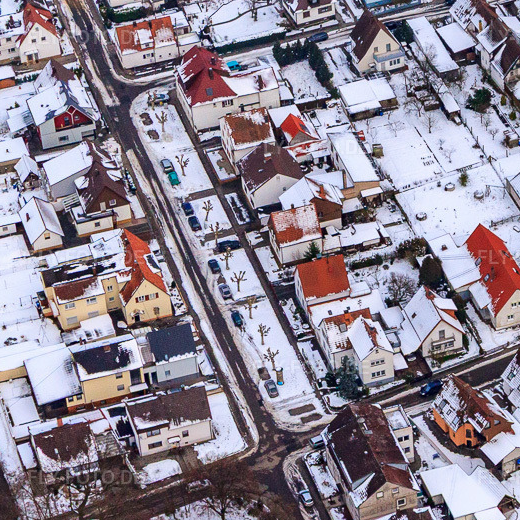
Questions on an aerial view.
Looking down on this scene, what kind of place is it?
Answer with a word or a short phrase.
residential area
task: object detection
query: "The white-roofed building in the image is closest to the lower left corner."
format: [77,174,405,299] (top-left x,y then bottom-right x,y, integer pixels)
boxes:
[17,442,39,479]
